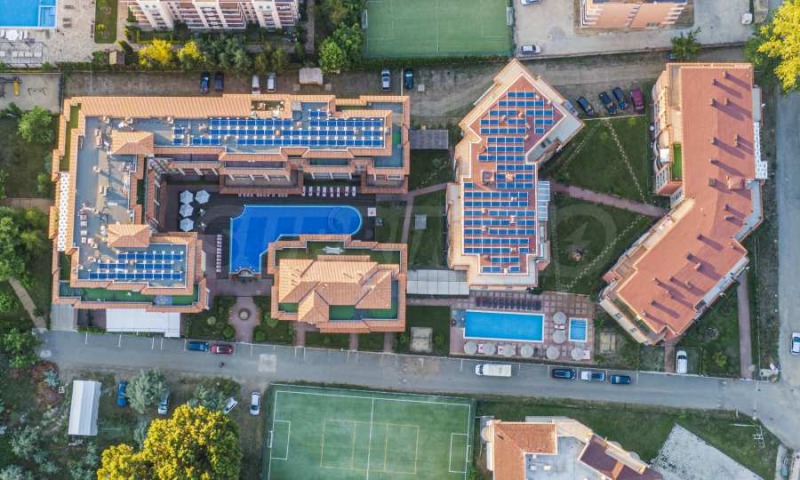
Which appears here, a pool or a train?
pool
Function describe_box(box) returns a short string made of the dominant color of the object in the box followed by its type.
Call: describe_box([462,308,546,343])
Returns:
blue swimming pool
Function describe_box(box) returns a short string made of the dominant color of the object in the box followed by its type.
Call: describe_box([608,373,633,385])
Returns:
blue vehicle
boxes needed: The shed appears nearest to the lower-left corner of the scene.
[67,381,103,435]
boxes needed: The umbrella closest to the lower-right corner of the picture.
[570,347,584,360]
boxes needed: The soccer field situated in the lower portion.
[265,385,475,480]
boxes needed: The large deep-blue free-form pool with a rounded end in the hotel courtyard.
[229,204,364,278]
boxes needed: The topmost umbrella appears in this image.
[5,27,20,42]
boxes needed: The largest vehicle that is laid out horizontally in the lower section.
[474,363,512,376]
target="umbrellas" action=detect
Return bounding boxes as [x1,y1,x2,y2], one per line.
[502,344,515,357]
[180,191,195,205]
[179,204,194,217]
[570,347,584,360]
[520,345,534,358]
[180,218,195,231]
[552,312,566,325]
[545,346,559,360]
[463,342,477,355]
[483,342,496,356]
[5,27,20,42]
[196,190,209,204]
[552,330,566,344]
